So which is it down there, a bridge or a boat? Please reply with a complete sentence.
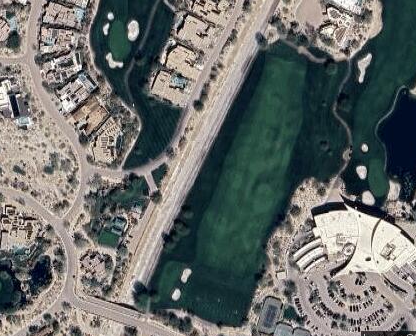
I can see a bridge in this picture.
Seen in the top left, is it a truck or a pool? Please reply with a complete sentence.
You can see a pool in the top left.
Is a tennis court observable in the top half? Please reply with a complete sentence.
No, I can find no tennis court in the top half.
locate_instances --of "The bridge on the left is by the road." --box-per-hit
[91,294,165,330]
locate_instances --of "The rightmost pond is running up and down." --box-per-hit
[378,89,416,198]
